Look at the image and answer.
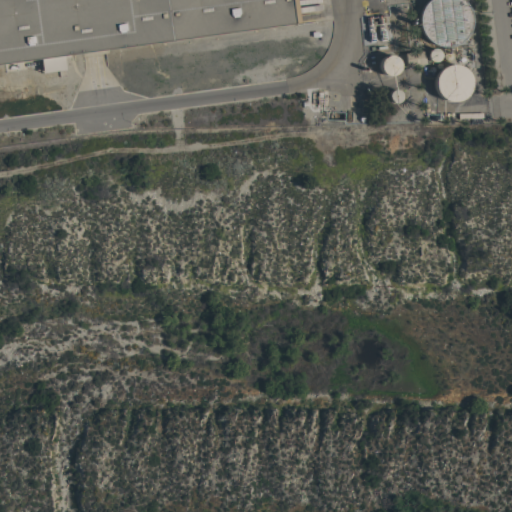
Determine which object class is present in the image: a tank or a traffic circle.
tank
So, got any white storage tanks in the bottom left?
No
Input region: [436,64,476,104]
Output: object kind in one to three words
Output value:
storage tank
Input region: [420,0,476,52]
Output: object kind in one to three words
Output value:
storage tank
